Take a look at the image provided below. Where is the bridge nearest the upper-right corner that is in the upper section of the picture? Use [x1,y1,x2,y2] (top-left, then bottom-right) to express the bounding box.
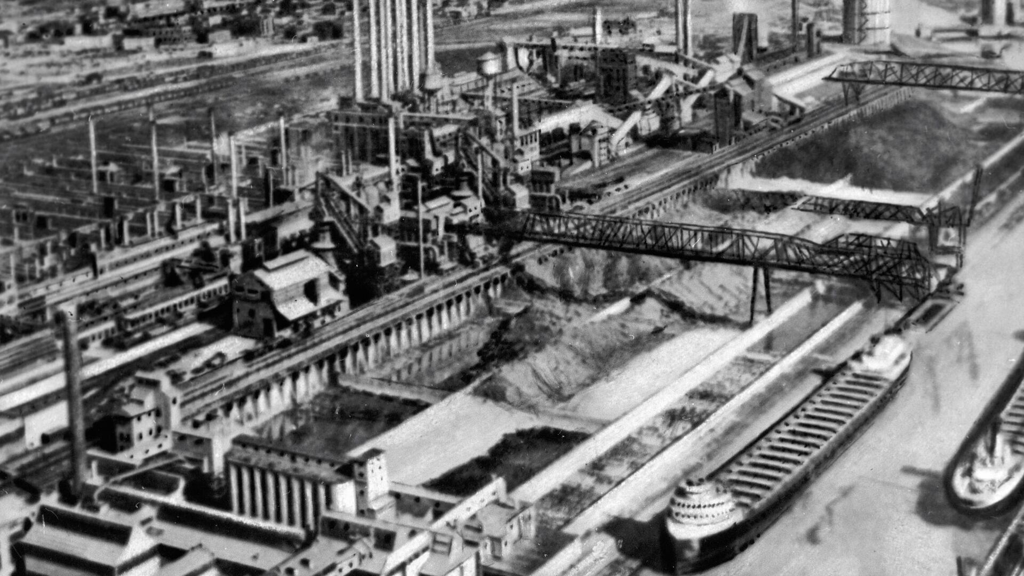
[826,60,1024,99]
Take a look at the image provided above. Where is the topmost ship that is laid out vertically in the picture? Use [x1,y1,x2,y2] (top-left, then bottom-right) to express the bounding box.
[941,329,1024,521]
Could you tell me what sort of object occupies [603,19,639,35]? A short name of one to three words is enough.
building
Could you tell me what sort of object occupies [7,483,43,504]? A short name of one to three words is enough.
shed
